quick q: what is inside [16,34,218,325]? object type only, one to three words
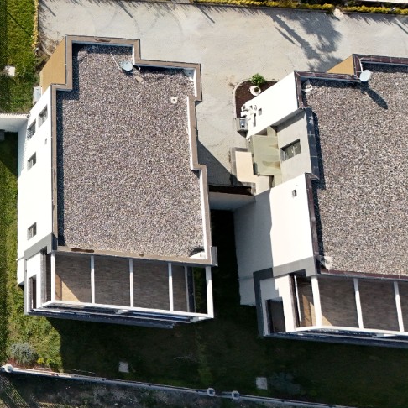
house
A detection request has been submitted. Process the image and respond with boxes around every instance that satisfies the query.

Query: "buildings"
[227,54,408,347]
[16,34,218,325]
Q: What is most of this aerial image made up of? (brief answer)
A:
buildings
